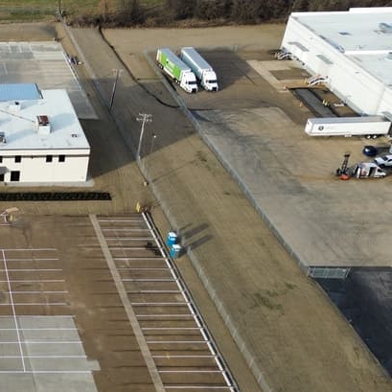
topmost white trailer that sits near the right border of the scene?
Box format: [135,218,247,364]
[299,115,388,140]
